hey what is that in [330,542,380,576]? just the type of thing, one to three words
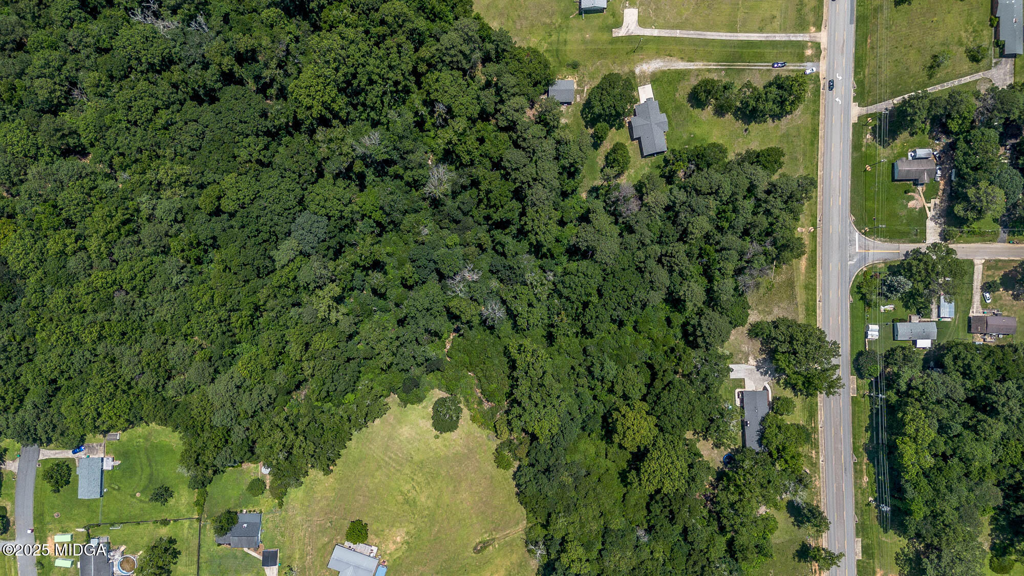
house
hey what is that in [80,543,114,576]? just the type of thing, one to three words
house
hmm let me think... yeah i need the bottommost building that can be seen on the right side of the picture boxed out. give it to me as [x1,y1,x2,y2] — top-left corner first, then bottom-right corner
[743,389,772,453]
